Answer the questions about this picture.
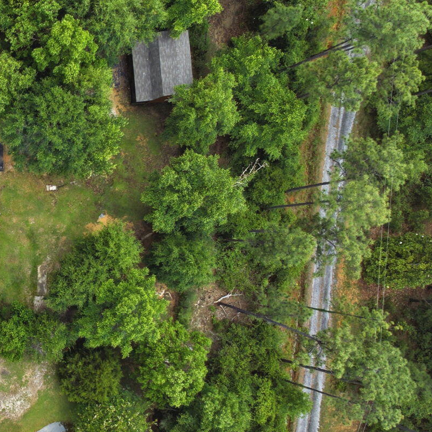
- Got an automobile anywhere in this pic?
No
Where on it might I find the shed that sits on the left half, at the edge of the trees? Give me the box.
[127,30,192,105]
